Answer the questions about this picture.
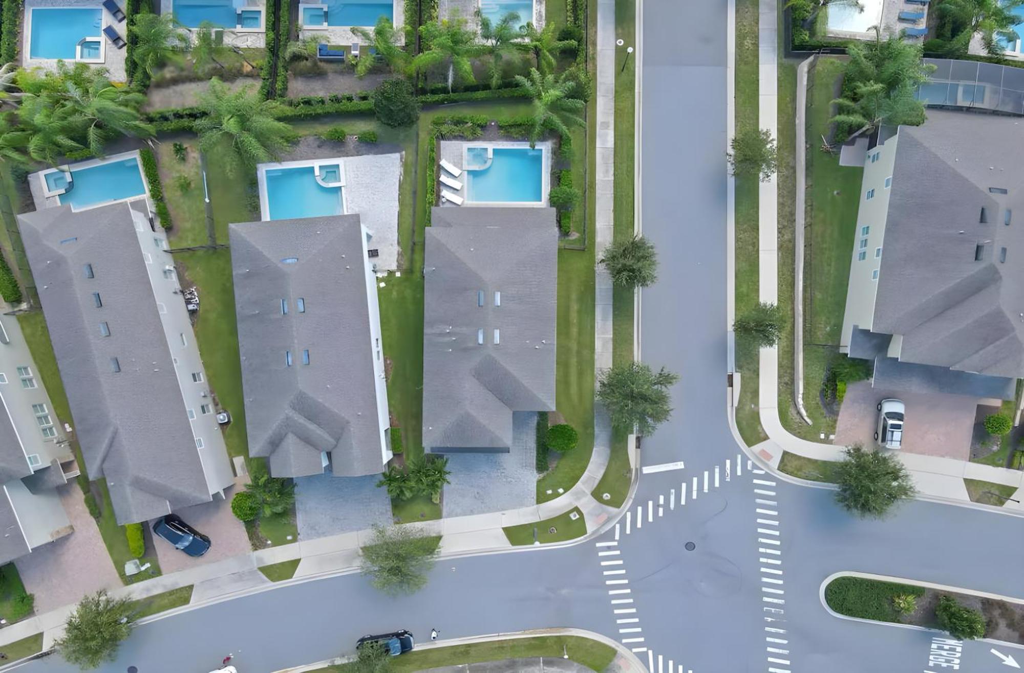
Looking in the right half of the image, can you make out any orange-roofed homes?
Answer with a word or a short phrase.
No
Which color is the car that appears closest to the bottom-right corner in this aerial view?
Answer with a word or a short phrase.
white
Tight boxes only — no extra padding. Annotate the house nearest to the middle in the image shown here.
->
[424,207,558,454]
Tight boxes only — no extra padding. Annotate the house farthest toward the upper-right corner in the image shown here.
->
[843,109,1024,400]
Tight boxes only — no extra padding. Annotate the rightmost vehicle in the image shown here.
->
[877,397,911,451]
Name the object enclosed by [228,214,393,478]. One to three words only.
house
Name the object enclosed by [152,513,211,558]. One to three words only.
car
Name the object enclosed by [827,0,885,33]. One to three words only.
swimming pool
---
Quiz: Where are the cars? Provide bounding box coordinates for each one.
[877,397,911,451]
[354,629,413,661]
[152,513,211,558]
[190,663,239,673]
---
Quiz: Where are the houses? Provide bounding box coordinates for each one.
[16,197,237,525]
[228,214,393,478]
[424,207,558,454]
[843,109,1024,400]
[0,244,82,565]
